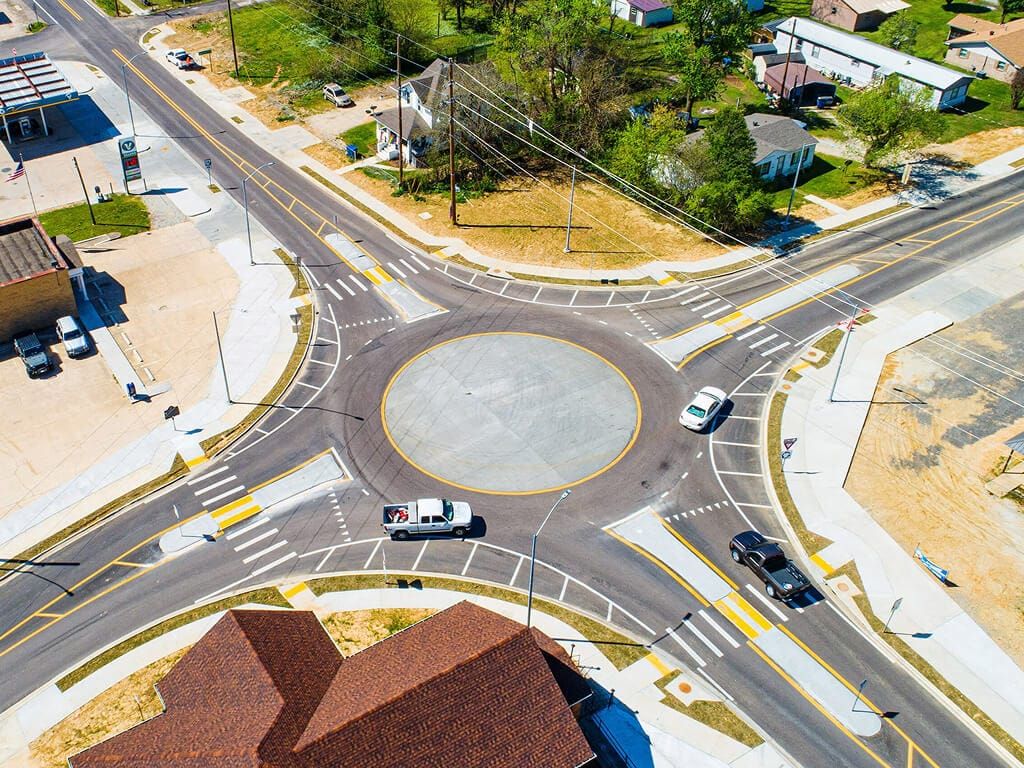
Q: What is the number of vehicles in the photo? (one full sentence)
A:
The picture shows 7 vehicles.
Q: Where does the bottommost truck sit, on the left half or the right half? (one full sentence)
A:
You can find the bottommost truck on the right side of the picture.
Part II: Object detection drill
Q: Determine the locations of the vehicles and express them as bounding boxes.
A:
[11,330,51,374]
[728,533,809,606]
[51,312,94,358]
[384,500,475,540]
[165,48,195,69]
[321,81,351,105]
[682,388,723,433]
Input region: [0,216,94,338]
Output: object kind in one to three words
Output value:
building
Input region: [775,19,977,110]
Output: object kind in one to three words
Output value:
house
